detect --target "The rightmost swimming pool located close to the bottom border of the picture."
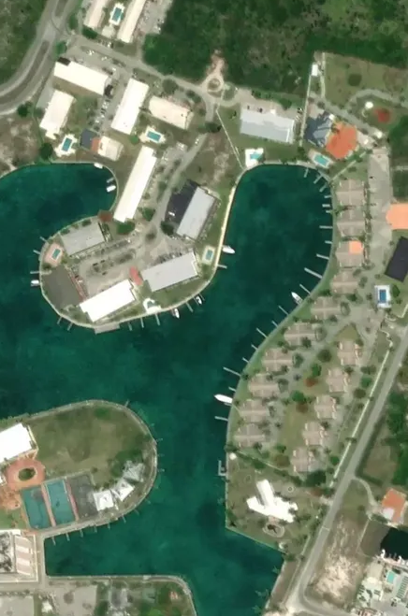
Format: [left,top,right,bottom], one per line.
[384,569,399,586]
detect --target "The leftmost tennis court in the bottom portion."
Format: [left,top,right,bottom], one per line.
[22,486,50,528]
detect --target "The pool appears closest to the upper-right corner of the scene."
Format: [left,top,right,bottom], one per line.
[309,150,336,169]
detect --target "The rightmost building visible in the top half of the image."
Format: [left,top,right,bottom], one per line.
[386,203,408,229]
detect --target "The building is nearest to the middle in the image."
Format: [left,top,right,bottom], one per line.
[143,251,199,293]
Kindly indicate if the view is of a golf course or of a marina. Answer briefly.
marina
